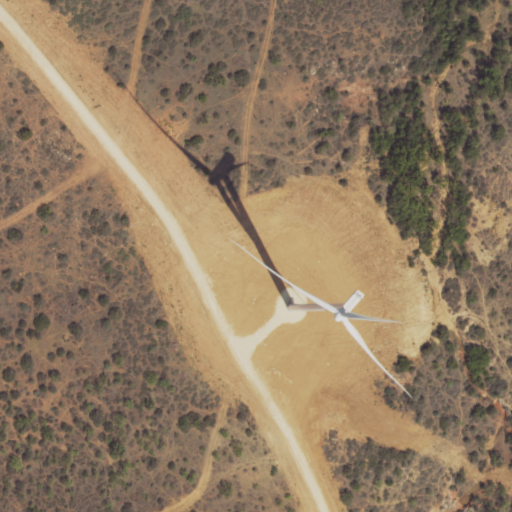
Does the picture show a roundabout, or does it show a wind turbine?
wind turbine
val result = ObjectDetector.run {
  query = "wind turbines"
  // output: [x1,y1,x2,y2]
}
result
[234,242,410,398]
